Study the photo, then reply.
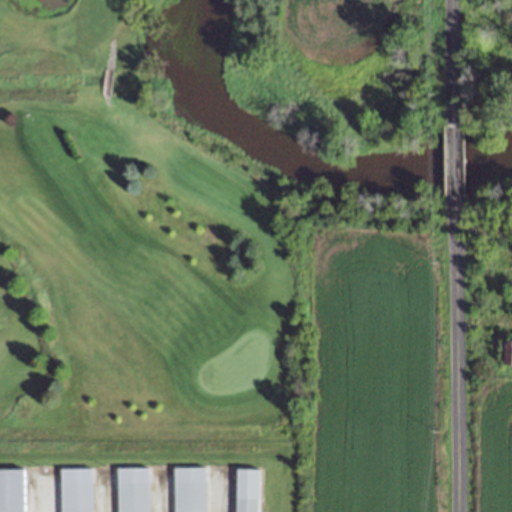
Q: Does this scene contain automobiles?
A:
No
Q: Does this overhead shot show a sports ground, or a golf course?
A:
golf course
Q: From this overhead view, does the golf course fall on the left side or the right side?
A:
left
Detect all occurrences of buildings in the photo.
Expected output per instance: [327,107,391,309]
[174,468,208,512]
[60,468,95,512]
[236,468,261,512]
[504,342,512,364]
[0,468,24,512]
[118,468,151,512]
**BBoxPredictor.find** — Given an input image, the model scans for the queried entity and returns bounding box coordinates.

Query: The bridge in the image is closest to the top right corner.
[444,124,468,196]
